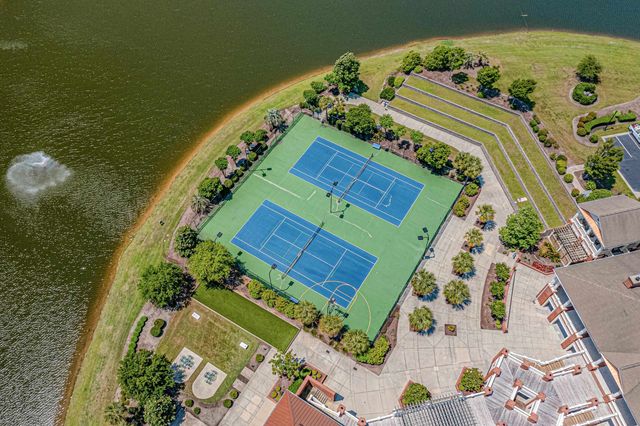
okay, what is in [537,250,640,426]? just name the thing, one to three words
building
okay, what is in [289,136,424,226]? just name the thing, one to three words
tennis court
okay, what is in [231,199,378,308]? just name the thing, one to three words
tennis court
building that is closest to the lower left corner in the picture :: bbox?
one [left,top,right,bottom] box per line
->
[264,390,343,426]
